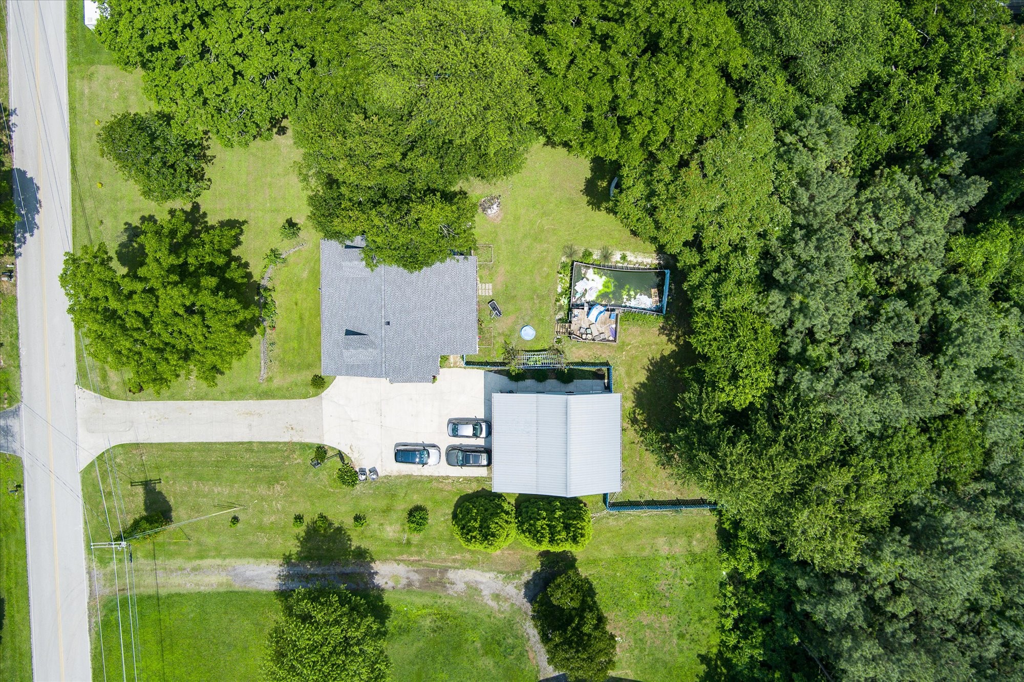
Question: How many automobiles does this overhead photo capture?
3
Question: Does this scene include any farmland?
No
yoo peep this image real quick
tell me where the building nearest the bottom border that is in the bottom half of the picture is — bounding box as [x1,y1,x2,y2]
[486,393,623,499]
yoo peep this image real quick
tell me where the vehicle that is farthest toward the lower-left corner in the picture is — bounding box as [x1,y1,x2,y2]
[395,444,441,466]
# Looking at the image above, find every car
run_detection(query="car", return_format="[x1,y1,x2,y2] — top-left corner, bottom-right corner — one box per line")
[448,419,490,439]
[395,444,441,466]
[447,446,490,468]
